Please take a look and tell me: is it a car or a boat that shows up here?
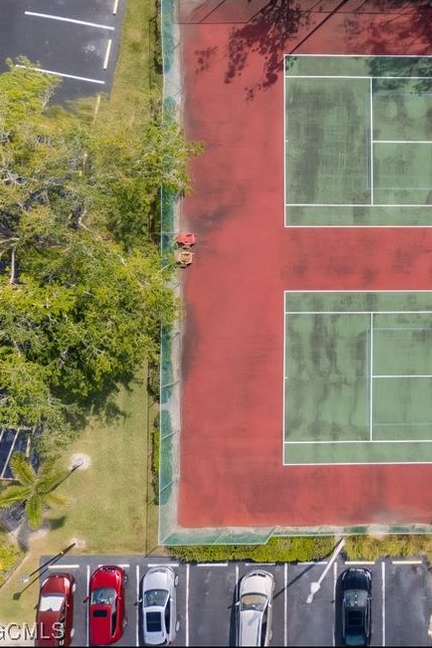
car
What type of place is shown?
sports ground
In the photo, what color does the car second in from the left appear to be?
red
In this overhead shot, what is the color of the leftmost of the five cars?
red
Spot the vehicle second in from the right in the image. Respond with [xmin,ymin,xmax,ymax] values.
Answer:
[236,568,274,648]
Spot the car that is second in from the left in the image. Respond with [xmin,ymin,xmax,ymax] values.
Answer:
[83,565,125,644]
